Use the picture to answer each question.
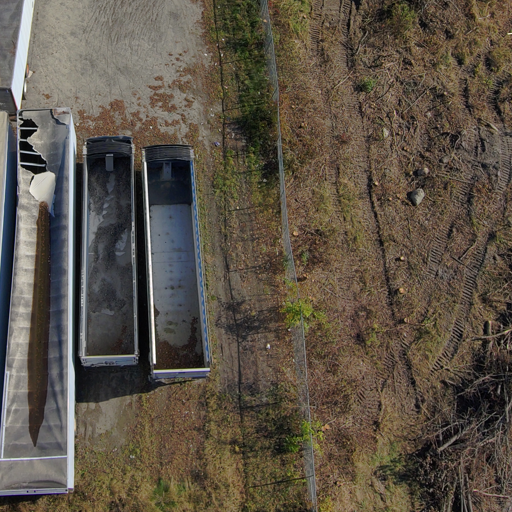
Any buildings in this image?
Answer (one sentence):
No, no building is visible in the scene.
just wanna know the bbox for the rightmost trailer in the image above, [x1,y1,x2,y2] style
[141,136,218,386]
